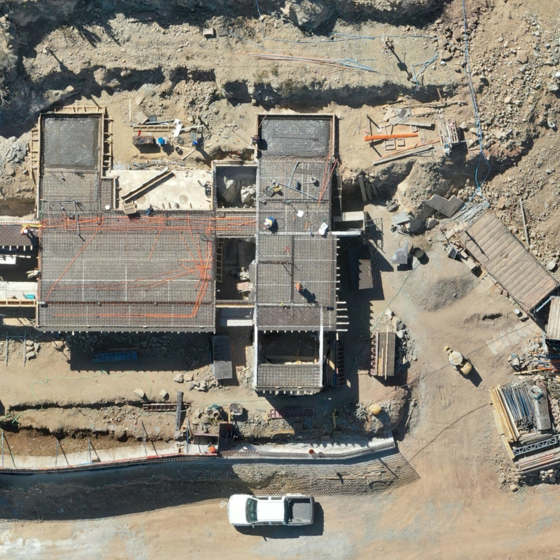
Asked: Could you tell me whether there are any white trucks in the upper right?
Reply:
No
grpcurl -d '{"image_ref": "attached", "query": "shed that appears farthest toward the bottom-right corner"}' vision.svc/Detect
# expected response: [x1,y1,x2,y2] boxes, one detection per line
[538,297,560,340]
